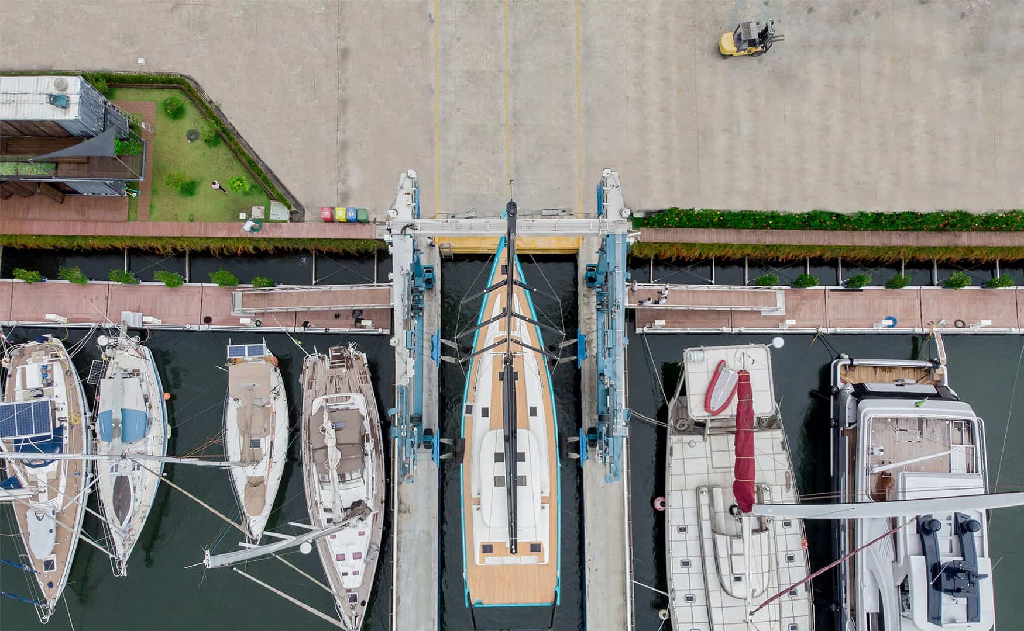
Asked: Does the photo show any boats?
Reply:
Yes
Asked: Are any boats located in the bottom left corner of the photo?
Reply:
Yes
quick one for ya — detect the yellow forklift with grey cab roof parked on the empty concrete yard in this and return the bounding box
[720,19,788,59]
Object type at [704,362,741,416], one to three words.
boat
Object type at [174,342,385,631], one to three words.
boat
